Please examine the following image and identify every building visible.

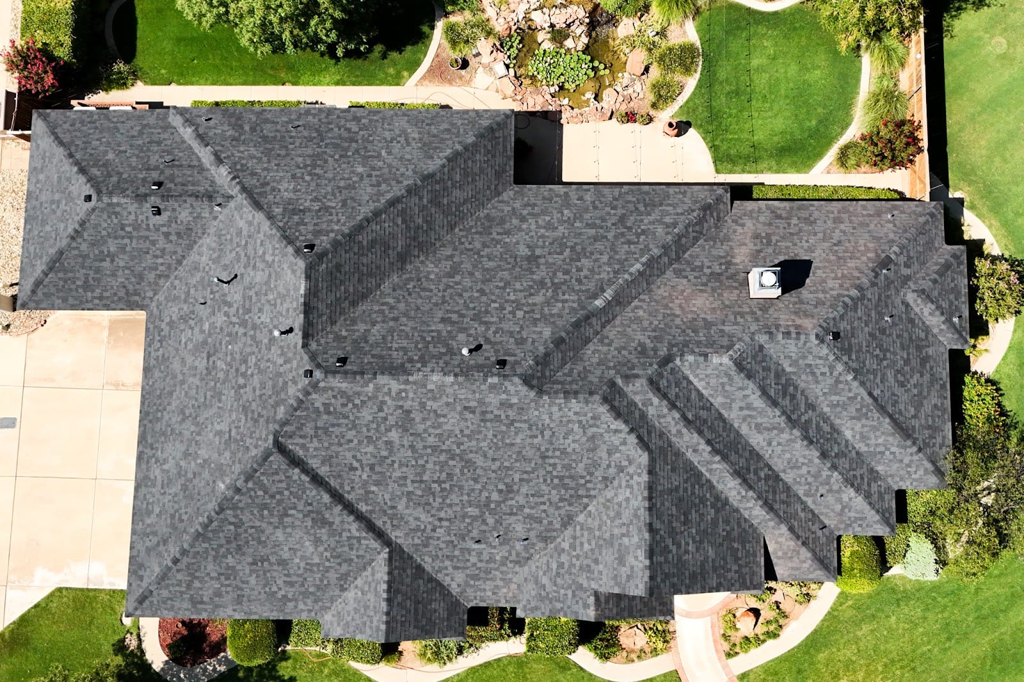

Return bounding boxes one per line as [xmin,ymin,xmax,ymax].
[17,106,969,647]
